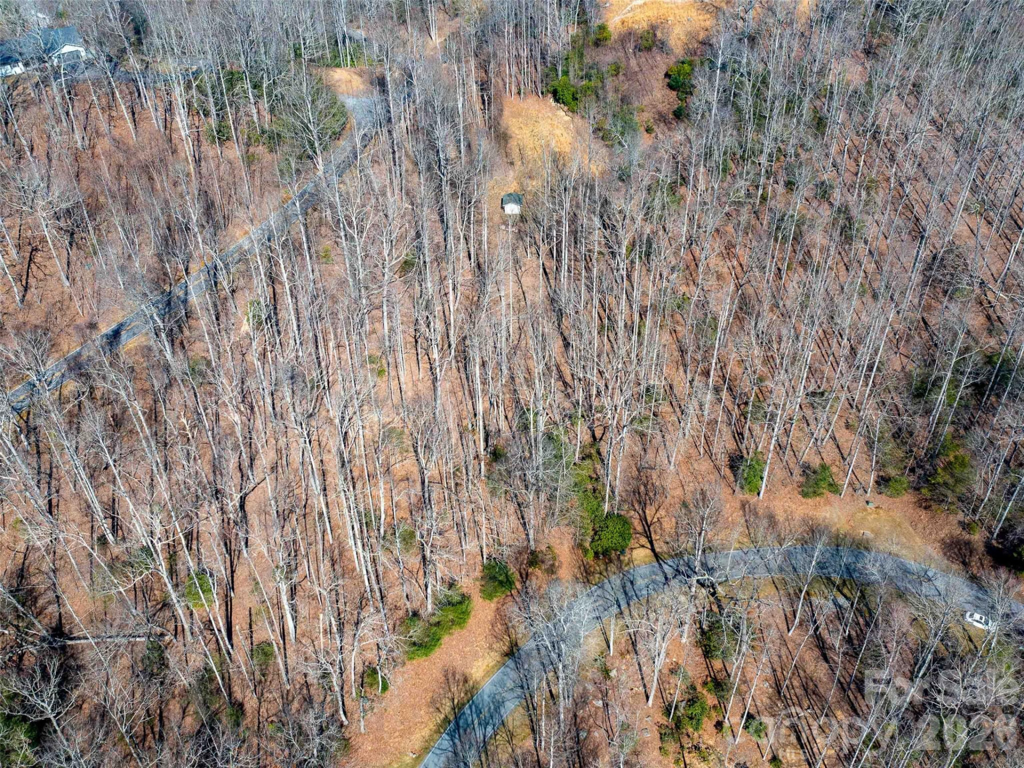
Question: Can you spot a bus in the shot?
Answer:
No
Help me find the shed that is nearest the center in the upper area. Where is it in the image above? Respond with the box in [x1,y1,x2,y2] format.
[503,191,523,214]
